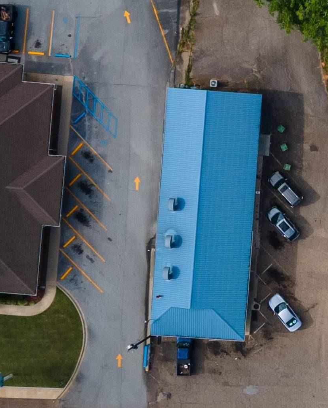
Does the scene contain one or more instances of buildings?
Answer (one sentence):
Yes, I can see a building in this picture.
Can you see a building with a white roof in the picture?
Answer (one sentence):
No, no building with a white roof is visible in the scene.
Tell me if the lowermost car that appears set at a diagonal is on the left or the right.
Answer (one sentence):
The lowermost car that appears set at a diagonal sits on the right side.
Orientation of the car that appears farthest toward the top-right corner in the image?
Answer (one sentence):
In this picture, the car that appears farthest toward the top-right corner lies diagonally.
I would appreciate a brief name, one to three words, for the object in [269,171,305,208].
car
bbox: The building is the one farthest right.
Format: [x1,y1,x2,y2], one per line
[149,87,267,342]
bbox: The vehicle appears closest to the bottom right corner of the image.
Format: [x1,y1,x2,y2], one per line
[268,293,303,332]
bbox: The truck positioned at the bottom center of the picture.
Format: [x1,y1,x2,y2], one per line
[173,338,195,377]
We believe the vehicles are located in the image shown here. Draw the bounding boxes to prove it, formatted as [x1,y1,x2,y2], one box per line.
[0,3,17,55]
[267,206,301,242]
[269,171,305,208]
[173,338,195,377]
[268,293,303,332]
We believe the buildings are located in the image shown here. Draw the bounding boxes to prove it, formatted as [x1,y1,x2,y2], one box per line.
[149,87,267,342]
[0,56,70,297]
